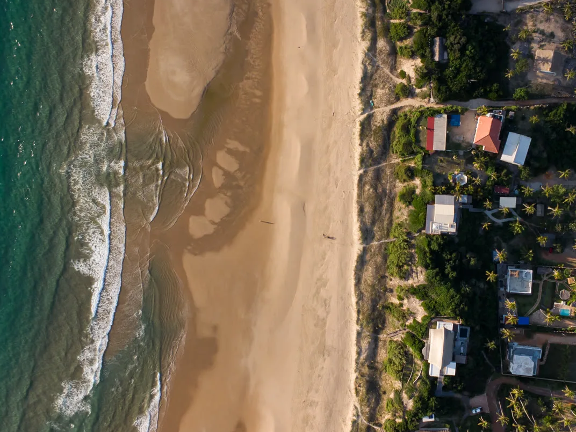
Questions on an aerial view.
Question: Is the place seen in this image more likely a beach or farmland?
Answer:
beach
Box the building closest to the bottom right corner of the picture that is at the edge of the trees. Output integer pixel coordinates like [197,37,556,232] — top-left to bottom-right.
[507,340,542,376]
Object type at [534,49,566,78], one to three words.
house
